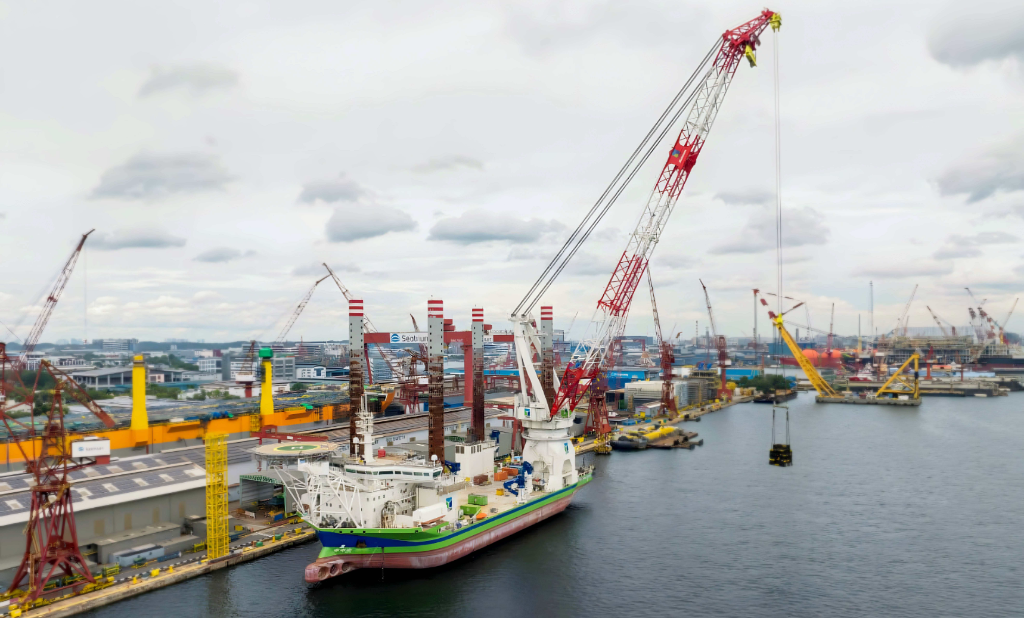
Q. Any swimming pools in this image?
No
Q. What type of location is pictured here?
port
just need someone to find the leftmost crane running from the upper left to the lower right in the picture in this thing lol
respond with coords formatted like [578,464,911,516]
[323,264,428,415]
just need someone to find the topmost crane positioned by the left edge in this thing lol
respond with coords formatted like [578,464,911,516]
[5,229,95,418]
